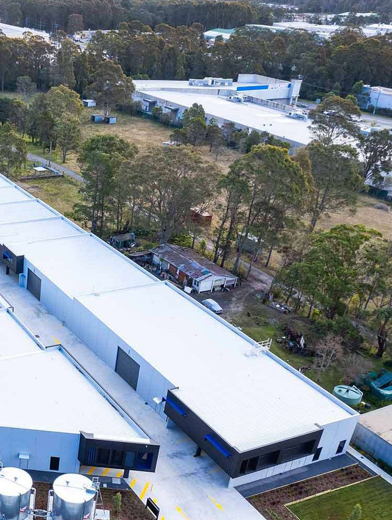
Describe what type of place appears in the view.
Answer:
industrial area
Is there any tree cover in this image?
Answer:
Yes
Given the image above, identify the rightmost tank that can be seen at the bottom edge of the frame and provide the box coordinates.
[49,473,112,520]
